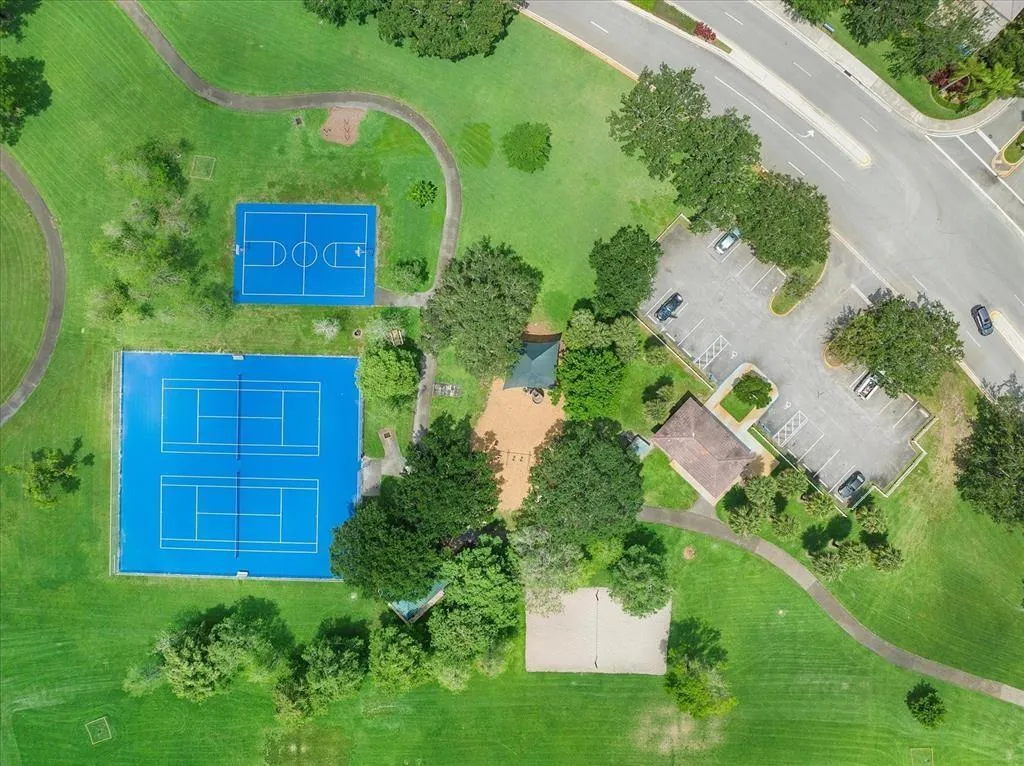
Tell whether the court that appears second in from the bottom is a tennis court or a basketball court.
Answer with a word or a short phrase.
tennis court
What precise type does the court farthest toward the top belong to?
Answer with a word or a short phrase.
basketball court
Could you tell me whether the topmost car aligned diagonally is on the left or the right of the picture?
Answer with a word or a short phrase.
right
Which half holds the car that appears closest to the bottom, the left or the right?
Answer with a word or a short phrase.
right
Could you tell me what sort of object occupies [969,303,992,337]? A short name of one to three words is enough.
car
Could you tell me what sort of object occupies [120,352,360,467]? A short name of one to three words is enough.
tennis court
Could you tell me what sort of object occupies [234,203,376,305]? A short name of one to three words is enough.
basketball court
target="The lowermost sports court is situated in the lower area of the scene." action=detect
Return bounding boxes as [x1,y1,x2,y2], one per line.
[524,587,674,677]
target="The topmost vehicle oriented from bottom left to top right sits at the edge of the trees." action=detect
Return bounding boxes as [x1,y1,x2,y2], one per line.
[714,227,740,255]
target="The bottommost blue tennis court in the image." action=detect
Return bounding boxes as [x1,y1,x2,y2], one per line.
[119,463,358,579]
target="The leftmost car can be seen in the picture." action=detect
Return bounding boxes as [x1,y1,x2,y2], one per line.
[654,291,685,322]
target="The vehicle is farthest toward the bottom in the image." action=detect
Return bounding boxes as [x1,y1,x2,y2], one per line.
[837,469,866,498]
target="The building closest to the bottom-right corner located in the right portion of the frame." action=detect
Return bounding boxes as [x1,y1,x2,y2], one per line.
[653,397,756,502]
